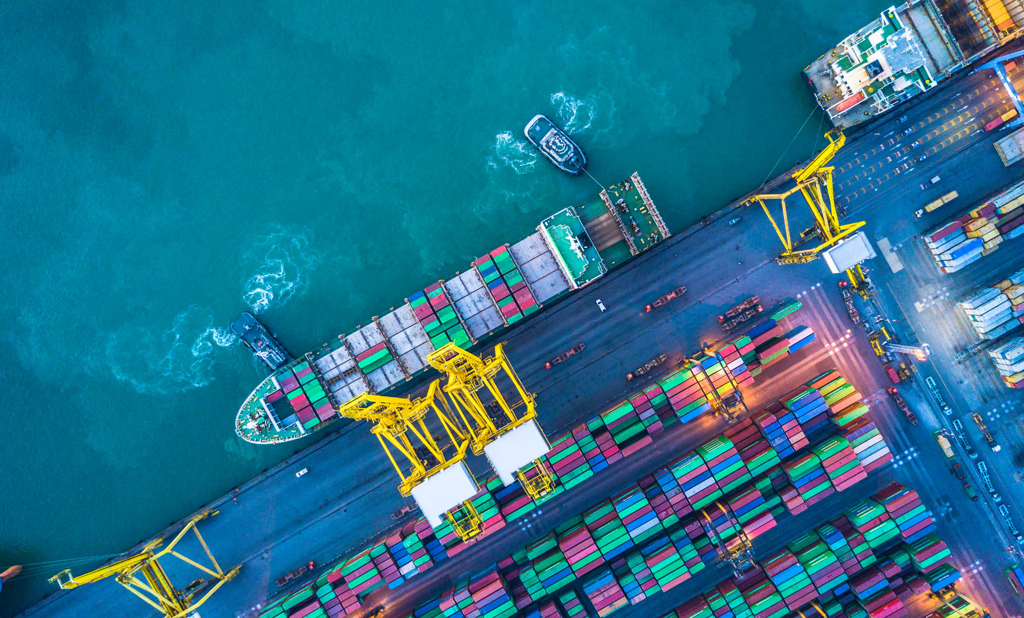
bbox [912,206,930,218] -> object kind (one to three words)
vehicle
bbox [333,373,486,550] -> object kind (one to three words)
container crane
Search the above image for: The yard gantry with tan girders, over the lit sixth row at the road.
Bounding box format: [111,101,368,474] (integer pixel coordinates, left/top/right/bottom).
[932,582,997,618]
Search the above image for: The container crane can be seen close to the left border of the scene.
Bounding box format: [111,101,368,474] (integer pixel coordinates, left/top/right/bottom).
[40,505,251,618]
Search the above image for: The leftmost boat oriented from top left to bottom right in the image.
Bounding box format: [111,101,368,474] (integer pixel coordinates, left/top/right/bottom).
[232,309,291,368]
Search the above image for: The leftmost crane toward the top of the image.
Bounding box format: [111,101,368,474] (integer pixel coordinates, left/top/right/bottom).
[727,118,887,302]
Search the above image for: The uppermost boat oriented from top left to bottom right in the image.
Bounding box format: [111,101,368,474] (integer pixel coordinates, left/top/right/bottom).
[522,110,589,178]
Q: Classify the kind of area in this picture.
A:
port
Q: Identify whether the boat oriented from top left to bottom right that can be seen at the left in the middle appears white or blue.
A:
blue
